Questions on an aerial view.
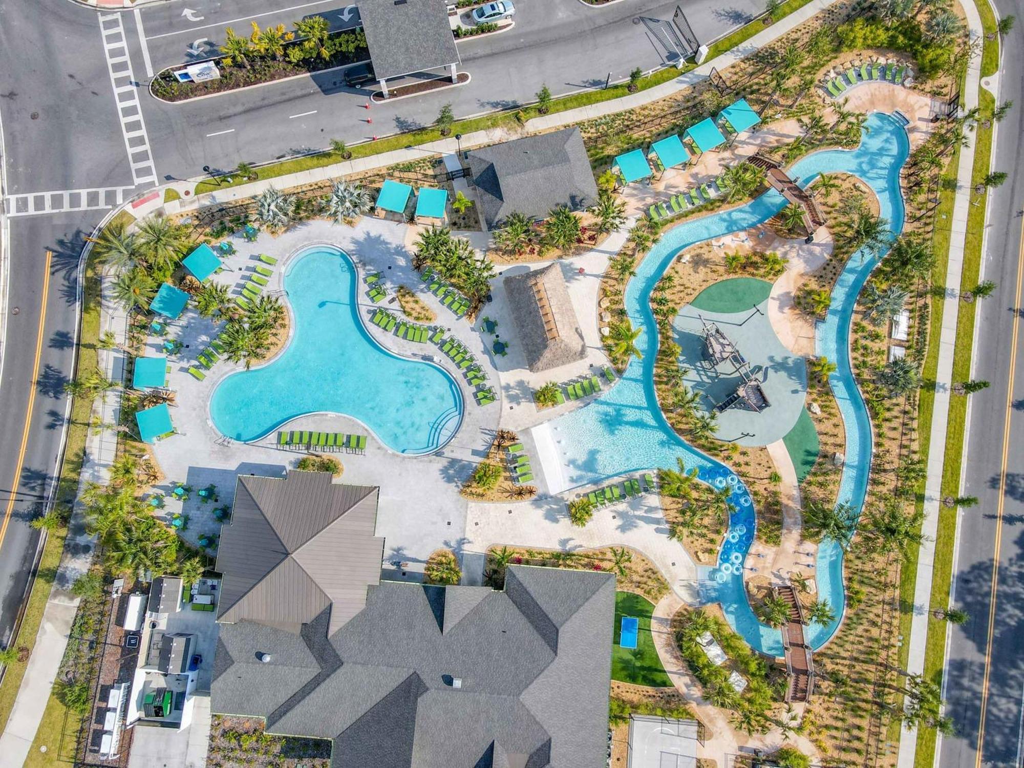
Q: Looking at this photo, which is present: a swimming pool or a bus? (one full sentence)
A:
The one in the frame is a swimming pool.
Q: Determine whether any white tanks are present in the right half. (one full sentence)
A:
No, there's no white tank to be seen in the right half.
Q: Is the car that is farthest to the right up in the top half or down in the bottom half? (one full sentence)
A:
The top half of the photo is where the car that is farthest to the right is.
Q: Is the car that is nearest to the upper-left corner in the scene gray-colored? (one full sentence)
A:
No, from above the car that is nearest to the upper-left corner looks black.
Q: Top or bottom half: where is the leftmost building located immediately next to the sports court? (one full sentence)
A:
The leftmost building located immediately next to the sports court sits in the bottom half of the picture.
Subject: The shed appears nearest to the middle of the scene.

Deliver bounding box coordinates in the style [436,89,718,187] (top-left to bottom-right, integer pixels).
[503,262,589,374]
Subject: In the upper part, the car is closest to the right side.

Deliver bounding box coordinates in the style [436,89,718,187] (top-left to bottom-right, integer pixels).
[469,0,517,26]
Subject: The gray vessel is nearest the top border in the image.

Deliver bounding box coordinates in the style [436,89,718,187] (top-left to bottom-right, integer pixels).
[695,314,741,376]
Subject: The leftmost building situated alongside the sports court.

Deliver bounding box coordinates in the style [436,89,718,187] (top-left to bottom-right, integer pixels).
[209,470,615,768]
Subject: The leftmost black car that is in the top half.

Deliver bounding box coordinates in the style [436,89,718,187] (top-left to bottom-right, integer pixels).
[342,60,377,89]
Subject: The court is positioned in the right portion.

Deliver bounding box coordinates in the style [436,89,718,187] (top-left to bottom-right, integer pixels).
[630,718,697,768]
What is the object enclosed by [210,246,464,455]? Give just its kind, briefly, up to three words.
swimming pool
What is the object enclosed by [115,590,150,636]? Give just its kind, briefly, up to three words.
storage tank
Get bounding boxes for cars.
[342,60,377,89]
[469,0,517,26]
